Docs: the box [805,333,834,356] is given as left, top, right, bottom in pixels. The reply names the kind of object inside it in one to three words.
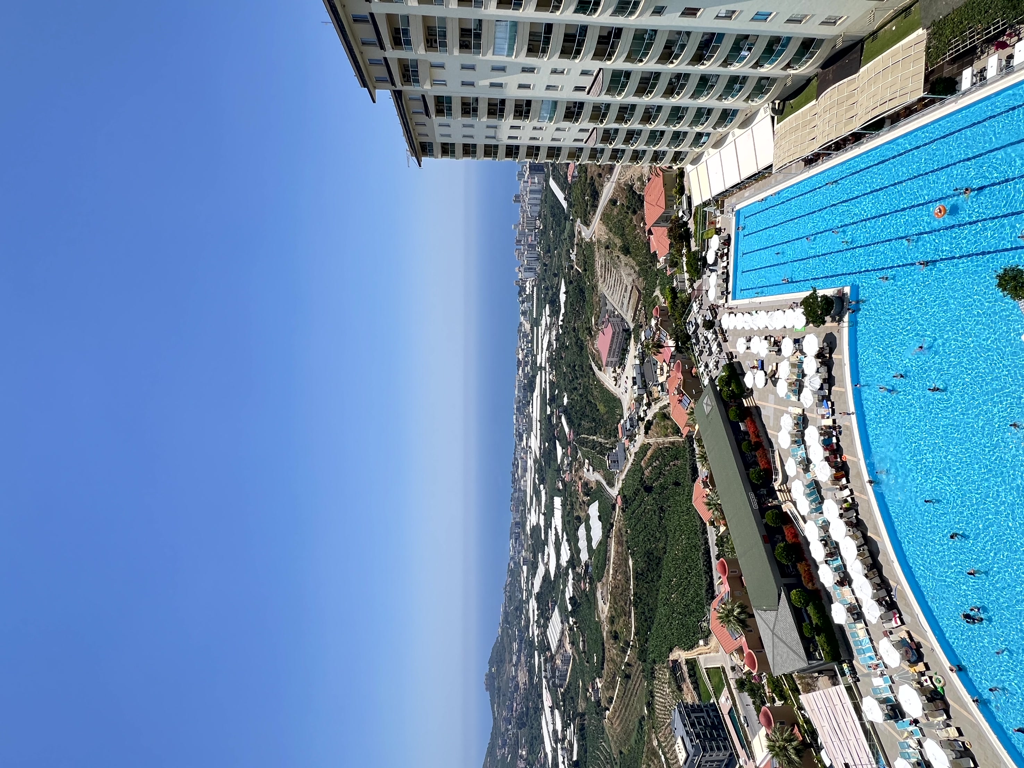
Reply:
umbrella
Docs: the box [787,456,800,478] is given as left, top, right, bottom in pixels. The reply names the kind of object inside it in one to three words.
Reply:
umbrella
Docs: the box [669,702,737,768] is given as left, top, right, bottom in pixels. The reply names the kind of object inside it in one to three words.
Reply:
building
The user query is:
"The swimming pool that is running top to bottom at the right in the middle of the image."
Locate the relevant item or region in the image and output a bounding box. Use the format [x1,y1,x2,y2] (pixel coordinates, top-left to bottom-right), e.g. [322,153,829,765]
[733,79,1024,768]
